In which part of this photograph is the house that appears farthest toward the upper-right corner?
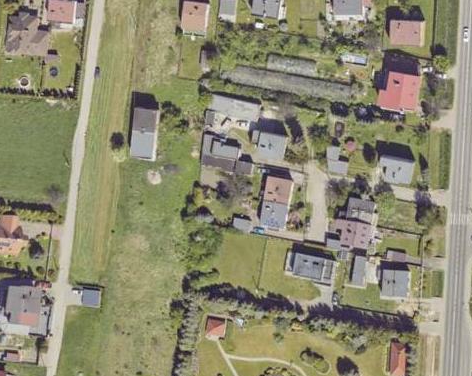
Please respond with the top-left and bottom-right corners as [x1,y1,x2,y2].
[390,20,426,49]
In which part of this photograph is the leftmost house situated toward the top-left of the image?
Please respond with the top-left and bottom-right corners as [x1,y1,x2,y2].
[6,12,50,57]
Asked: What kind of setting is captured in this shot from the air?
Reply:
residential area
